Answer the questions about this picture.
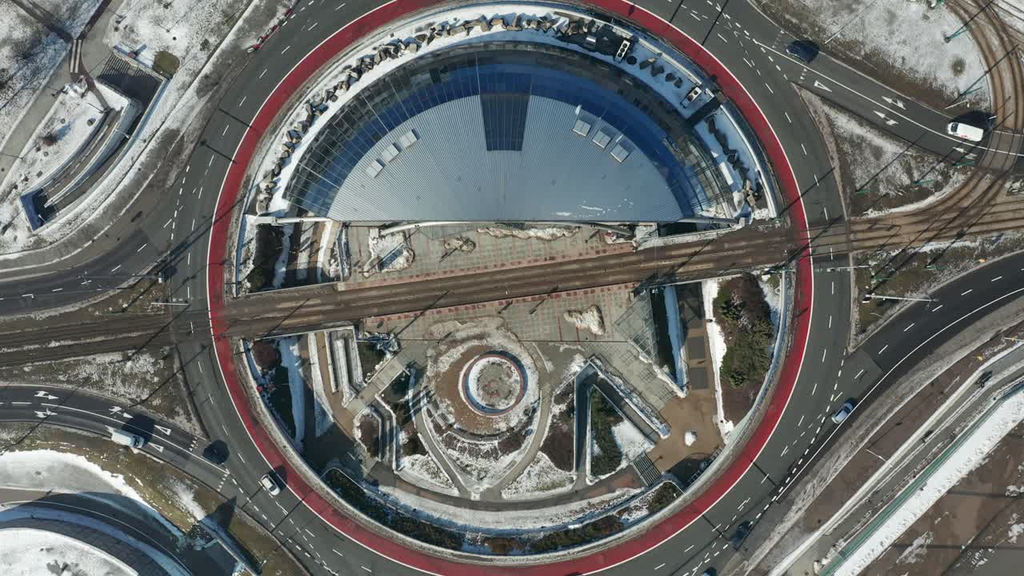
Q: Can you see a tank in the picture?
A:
No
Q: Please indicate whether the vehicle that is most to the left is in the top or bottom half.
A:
bottom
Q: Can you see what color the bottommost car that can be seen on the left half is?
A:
white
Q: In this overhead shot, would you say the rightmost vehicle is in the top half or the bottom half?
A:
top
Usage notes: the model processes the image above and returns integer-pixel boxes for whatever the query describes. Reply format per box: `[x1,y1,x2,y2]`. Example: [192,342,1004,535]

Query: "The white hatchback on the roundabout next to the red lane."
[259,474,280,496]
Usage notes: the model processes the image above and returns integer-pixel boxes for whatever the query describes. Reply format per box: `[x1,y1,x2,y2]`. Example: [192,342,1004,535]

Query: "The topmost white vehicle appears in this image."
[948,121,989,142]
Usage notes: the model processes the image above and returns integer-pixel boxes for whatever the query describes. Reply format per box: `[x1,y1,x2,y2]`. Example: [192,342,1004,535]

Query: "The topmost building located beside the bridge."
[252,41,746,244]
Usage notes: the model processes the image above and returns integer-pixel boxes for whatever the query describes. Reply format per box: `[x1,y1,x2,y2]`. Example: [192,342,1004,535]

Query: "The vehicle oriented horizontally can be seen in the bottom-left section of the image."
[107,428,146,448]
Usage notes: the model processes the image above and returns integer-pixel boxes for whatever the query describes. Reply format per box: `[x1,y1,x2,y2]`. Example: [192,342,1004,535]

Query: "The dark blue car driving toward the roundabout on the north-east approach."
[788,43,815,62]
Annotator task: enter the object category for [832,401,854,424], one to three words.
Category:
car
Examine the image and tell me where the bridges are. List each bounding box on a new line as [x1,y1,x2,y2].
[227,228,800,338]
